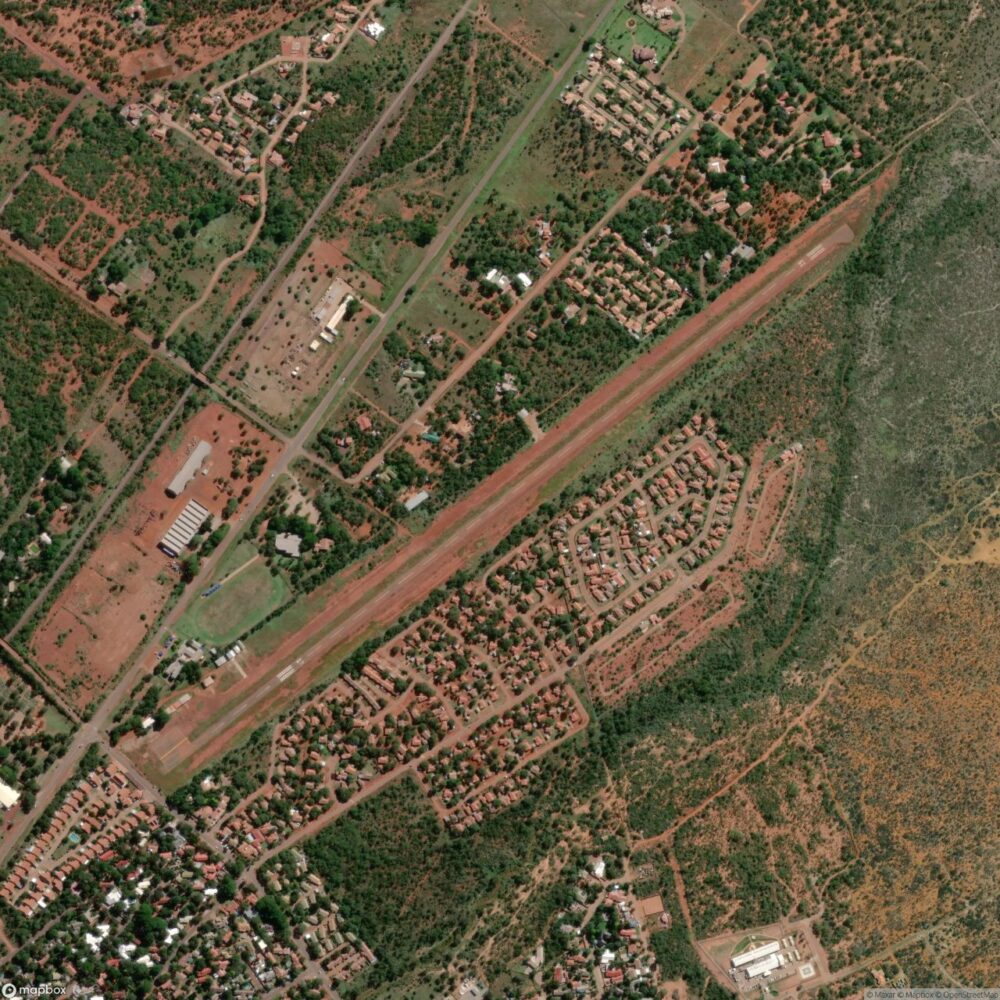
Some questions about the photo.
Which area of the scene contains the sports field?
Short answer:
left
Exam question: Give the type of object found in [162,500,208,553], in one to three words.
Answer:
building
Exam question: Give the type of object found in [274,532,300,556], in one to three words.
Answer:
building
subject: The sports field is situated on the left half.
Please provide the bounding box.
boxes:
[188,558,284,648]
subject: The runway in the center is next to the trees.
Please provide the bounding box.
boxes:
[148,212,854,772]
